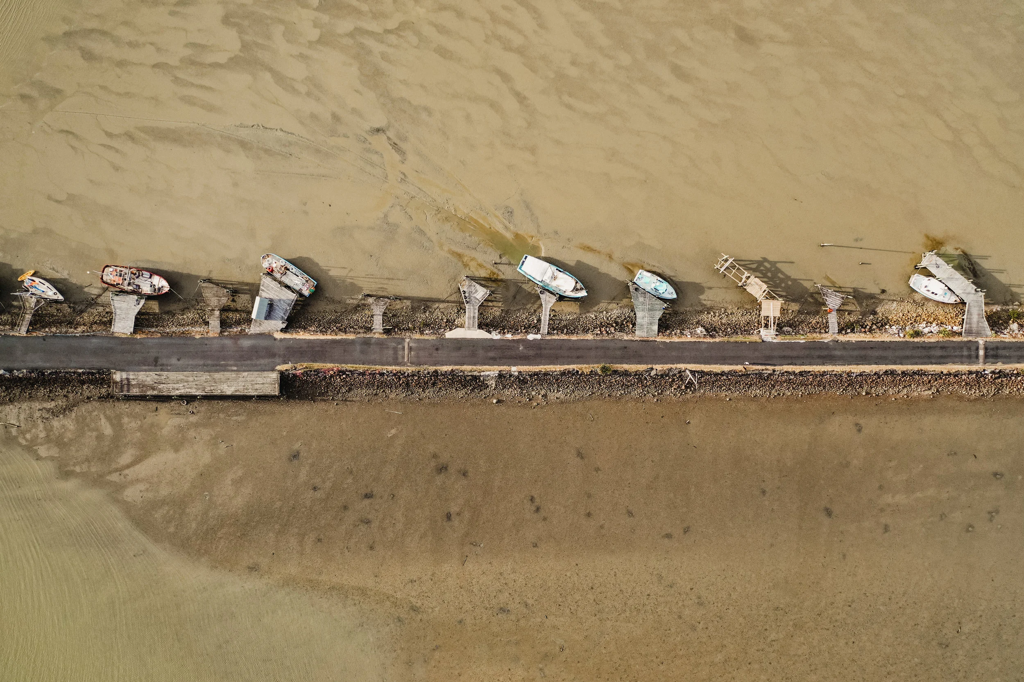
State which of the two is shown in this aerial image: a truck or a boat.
boat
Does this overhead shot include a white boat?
Yes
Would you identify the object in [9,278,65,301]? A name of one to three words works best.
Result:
boat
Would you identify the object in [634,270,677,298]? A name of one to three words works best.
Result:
boat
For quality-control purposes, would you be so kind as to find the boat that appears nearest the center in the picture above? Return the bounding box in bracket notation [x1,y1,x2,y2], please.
[516,253,588,299]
